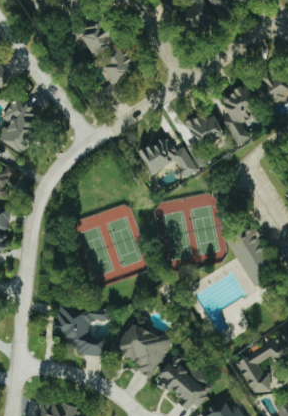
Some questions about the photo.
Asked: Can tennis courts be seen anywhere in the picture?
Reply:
Yes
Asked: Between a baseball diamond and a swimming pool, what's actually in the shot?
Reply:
swimming pool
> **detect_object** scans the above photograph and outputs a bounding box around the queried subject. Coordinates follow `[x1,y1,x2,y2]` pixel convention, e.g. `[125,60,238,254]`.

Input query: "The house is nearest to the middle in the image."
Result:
[136,145,200,178]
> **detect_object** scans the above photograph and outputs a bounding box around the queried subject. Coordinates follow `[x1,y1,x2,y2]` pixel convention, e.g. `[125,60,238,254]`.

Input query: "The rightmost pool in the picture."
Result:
[274,102,288,116]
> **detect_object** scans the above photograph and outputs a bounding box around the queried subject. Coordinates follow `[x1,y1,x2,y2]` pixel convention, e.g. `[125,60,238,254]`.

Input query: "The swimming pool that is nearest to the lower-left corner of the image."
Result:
[90,324,109,338]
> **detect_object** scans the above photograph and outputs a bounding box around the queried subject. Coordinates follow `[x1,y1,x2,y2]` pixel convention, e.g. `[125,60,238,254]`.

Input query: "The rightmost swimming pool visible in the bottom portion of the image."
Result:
[260,395,278,416]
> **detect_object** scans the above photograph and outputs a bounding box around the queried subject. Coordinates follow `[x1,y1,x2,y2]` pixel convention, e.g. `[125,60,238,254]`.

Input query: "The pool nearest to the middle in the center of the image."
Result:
[158,168,180,186]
